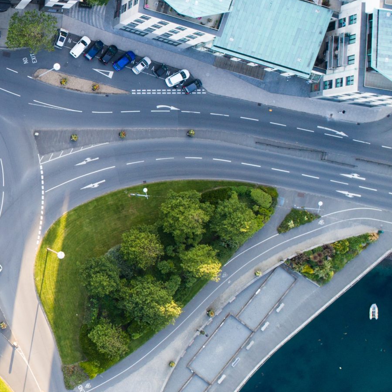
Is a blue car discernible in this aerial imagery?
Yes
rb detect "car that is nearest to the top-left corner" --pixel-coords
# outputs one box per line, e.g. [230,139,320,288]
[52,27,68,50]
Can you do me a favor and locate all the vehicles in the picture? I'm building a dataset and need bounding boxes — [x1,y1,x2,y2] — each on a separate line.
[111,49,135,73]
[97,44,118,66]
[68,35,92,60]
[164,66,191,91]
[52,27,68,50]
[150,61,169,82]
[180,76,202,96]
[131,55,152,76]
[84,39,104,61]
